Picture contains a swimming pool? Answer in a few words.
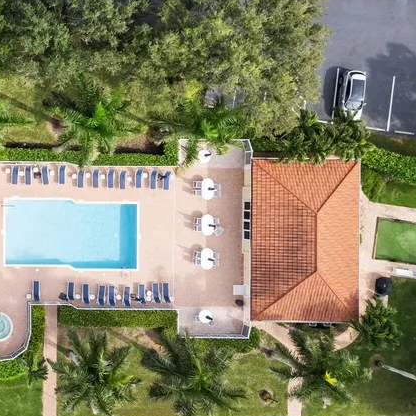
Yes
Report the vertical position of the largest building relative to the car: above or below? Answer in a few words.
below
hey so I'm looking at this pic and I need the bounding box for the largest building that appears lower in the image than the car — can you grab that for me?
[237,160,361,322]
